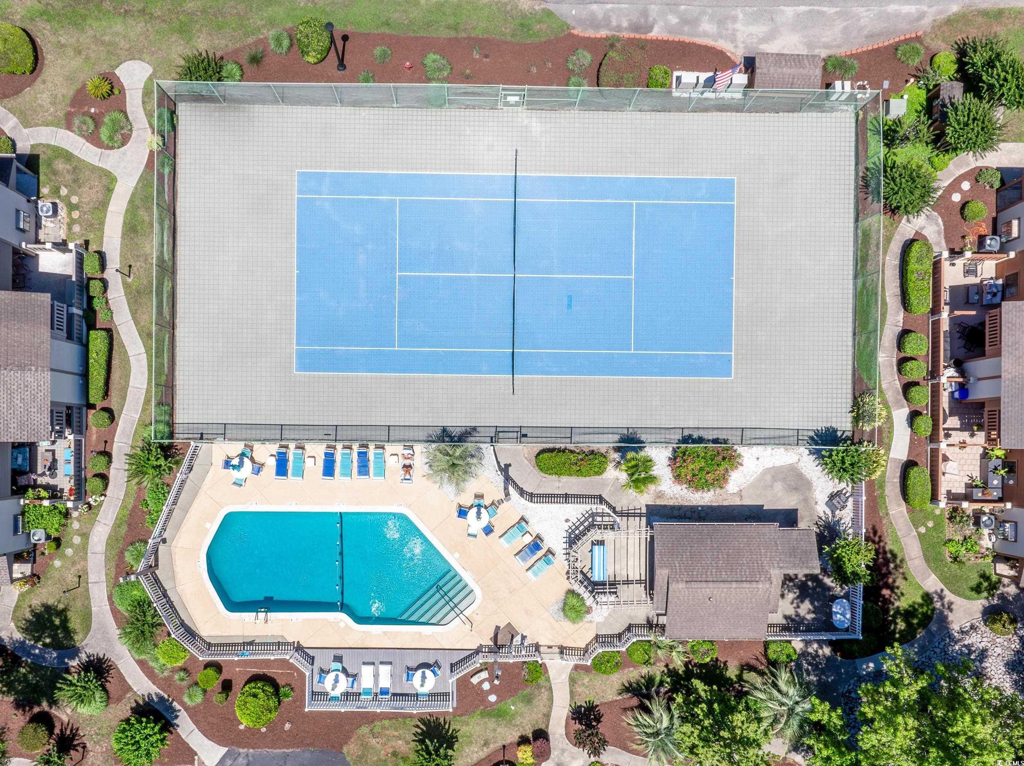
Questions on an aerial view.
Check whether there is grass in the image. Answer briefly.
Yes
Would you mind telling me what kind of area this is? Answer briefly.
sports ground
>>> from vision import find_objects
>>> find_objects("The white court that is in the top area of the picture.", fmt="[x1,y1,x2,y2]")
[175,102,855,446]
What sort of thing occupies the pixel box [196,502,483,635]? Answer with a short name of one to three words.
swimming pool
